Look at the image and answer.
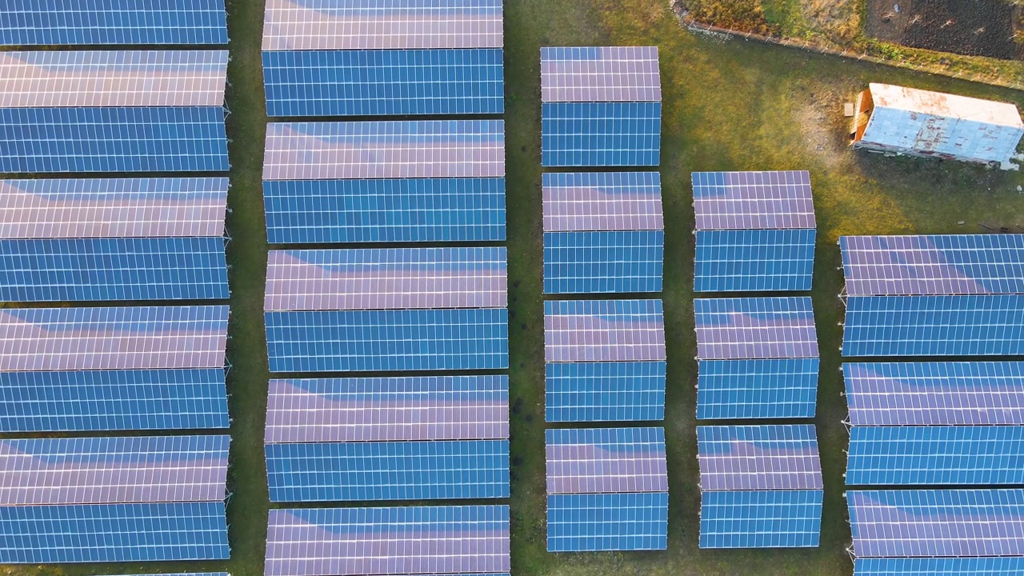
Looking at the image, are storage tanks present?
No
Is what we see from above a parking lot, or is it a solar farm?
solar farm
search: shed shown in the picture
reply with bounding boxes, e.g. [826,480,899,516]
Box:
[852,83,1024,166]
